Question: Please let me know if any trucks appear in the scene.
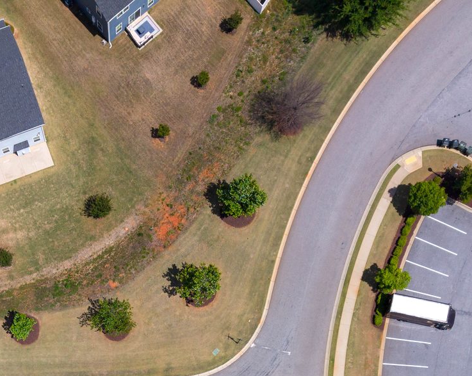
Yes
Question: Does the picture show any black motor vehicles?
No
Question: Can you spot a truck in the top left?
No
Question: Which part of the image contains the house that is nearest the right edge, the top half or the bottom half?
top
